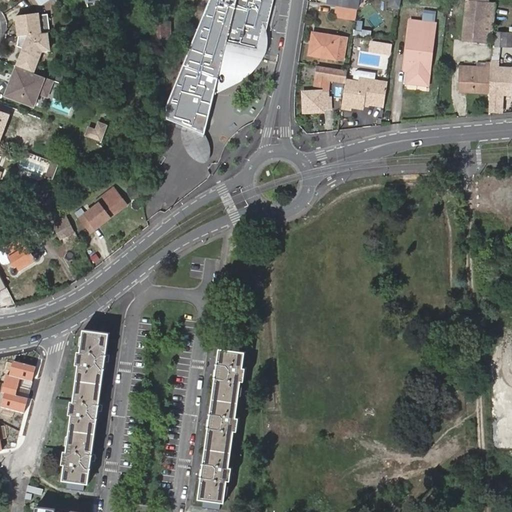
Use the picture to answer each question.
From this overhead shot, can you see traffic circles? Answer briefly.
Yes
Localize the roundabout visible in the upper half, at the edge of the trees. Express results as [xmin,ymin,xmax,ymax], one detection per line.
[240,152,314,221]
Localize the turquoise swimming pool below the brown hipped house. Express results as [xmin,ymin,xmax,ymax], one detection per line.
[50,99,72,116]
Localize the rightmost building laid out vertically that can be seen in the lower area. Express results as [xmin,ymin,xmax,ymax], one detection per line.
[196,348,246,504]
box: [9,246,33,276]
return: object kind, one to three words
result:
house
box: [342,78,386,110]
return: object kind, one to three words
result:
house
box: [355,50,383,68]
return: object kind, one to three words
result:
swimming pool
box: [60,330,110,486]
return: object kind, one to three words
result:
building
